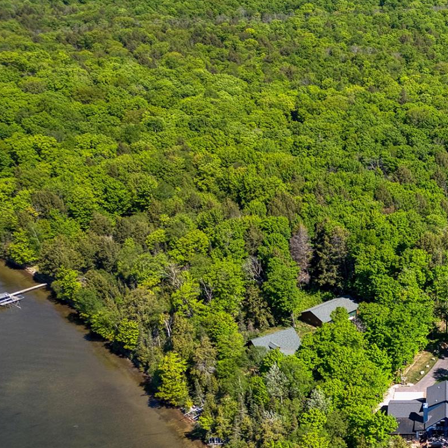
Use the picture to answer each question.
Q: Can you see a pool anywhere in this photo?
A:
No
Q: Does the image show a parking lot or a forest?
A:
forest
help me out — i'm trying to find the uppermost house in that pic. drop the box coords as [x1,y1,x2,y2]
[302,295,354,329]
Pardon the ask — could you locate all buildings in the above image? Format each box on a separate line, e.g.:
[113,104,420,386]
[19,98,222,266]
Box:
[302,295,354,329]
[388,379,448,442]
[247,326,303,353]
